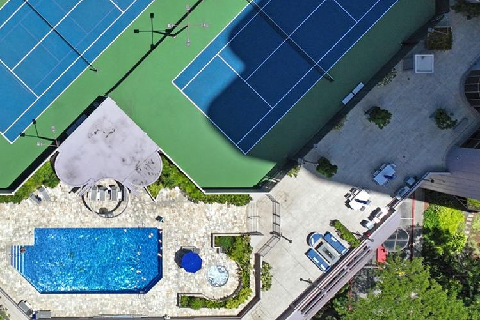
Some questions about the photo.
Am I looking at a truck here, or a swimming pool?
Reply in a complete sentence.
Of the two, only a swimming pool appears.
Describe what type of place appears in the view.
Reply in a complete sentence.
What you see here is a sports ground.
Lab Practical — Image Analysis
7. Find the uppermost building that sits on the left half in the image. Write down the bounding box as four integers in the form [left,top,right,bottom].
[54,96,162,199]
